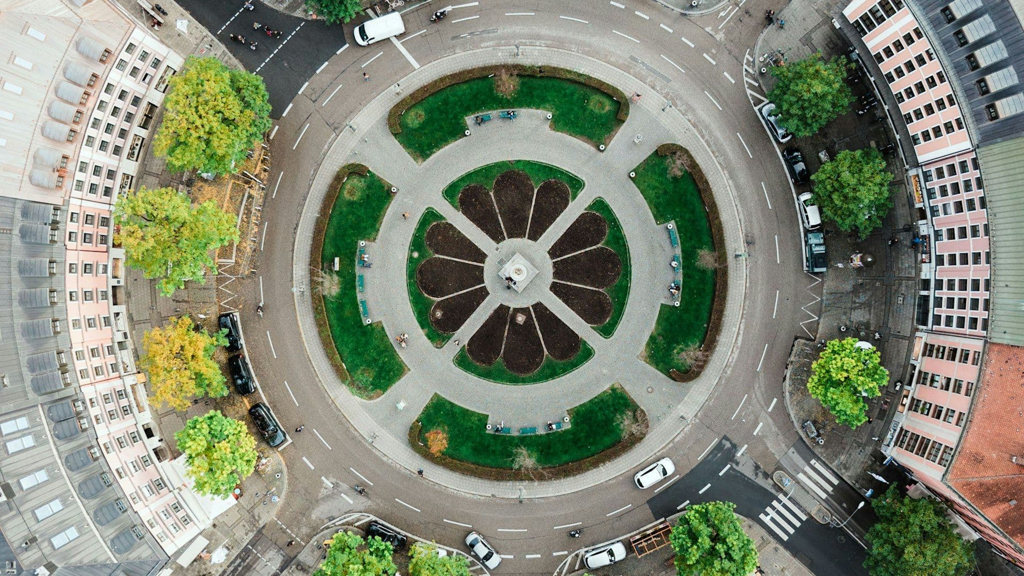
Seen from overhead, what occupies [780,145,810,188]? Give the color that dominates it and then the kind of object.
black car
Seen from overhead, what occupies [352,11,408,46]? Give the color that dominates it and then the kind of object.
white van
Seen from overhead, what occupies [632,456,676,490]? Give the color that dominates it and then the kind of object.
white car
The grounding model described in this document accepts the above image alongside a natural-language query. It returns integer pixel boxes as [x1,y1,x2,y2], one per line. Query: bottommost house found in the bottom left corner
[0,373,236,576]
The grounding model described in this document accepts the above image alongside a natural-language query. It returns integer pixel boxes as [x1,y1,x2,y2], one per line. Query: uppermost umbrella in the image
[177,18,193,35]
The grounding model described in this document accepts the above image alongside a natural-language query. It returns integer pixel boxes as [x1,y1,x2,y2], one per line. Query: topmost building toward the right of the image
[806,0,1024,171]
